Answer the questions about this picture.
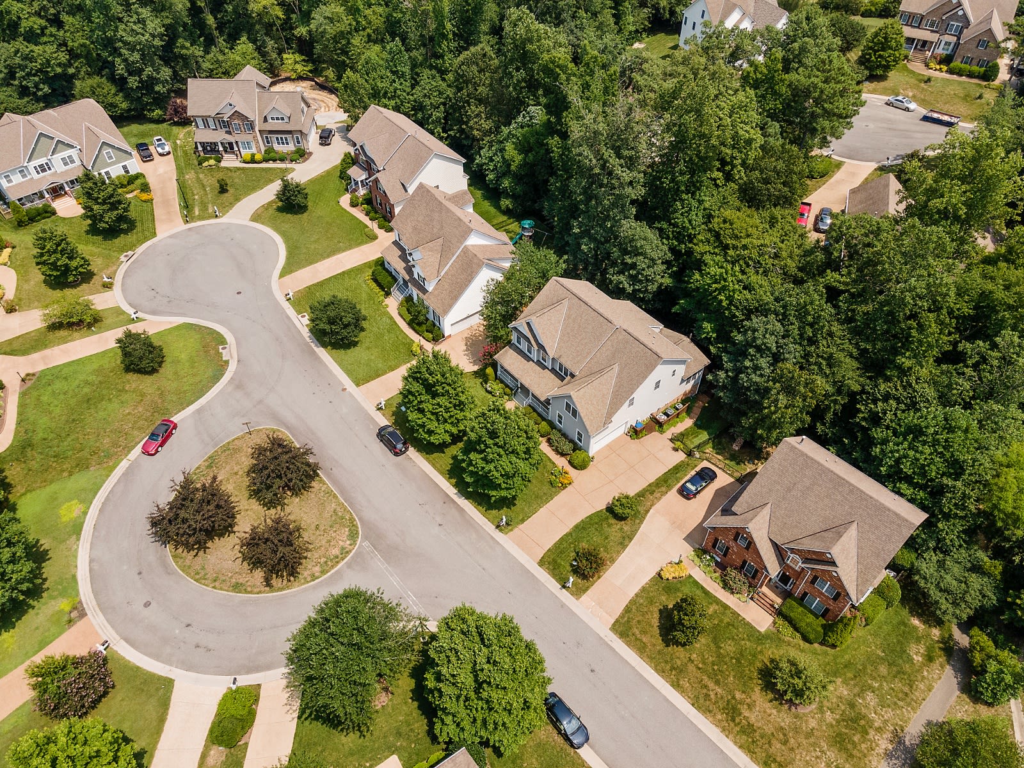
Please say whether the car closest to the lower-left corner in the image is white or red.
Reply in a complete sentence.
The car closest to the lower-left corner looks red in the image.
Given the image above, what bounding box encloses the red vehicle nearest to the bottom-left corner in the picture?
[142,419,177,457]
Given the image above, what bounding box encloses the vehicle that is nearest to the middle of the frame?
[375,425,411,460]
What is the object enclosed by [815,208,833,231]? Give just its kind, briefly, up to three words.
car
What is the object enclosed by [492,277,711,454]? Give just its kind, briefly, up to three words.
house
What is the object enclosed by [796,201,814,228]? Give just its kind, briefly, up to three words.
vehicle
